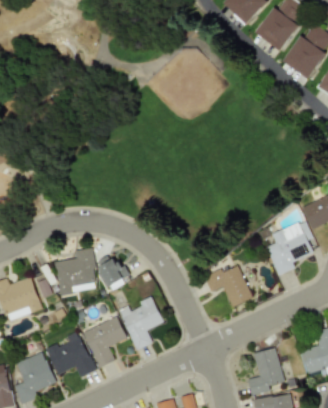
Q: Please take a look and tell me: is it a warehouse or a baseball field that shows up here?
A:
baseball field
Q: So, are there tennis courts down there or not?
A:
No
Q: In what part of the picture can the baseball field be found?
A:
center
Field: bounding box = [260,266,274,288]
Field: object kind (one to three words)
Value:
swimming pool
